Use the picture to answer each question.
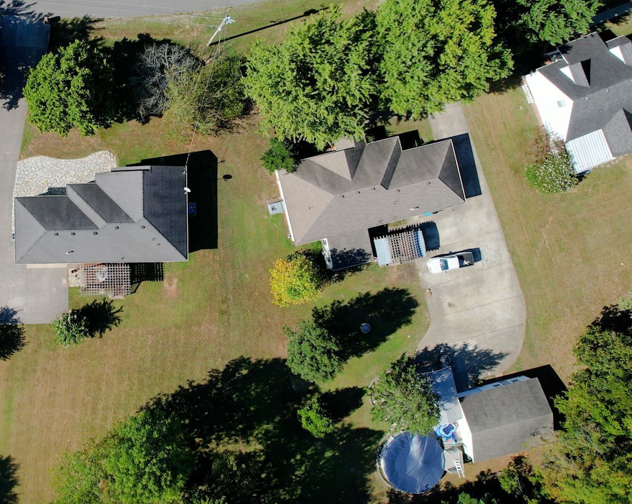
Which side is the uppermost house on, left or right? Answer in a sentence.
The uppermost house is on the right side of the image.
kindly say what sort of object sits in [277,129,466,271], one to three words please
house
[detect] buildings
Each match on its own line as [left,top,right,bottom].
[521,20,632,173]
[277,129,466,271]
[14,166,190,264]
[456,374,554,464]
